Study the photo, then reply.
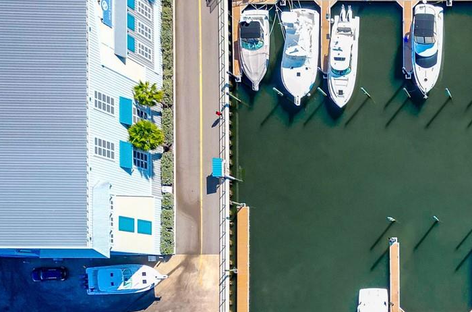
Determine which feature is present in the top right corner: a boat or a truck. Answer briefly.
boat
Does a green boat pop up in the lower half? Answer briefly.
No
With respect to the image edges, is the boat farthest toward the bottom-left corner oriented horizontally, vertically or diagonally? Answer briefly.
horizontally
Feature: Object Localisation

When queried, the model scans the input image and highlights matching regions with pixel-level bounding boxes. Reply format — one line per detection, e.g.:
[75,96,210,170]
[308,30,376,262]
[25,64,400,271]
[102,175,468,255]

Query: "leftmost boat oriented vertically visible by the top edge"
[240,7,272,90]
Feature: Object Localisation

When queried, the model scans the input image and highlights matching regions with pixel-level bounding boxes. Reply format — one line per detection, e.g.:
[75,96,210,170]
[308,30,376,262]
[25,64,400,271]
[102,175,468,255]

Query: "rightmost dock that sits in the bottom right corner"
[390,241,406,312]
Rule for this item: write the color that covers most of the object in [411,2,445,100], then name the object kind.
white boat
